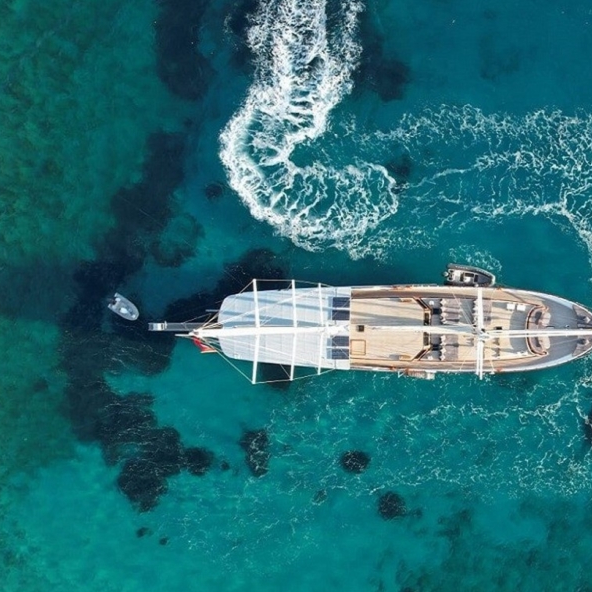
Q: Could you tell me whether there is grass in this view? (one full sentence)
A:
No, the picture contains no grass.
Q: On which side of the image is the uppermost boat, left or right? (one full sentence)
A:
The uppermost boat is on the right side of the image.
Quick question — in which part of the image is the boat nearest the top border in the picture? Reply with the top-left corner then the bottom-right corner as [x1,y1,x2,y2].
[444,265,495,286]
